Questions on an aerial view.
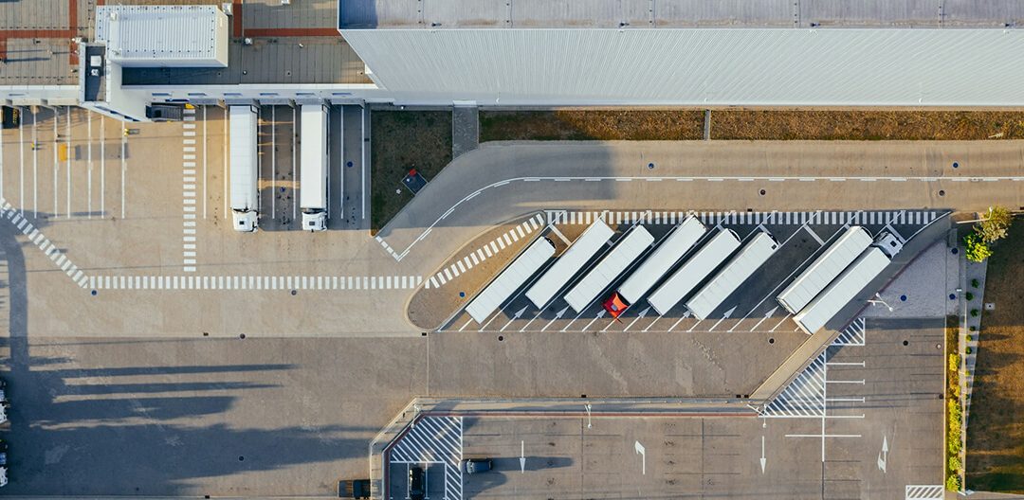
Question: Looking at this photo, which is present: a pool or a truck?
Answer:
truck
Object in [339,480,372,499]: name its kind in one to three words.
vehicle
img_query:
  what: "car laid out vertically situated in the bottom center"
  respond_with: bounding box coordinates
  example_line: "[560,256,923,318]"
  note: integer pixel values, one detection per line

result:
[410,465,427,499]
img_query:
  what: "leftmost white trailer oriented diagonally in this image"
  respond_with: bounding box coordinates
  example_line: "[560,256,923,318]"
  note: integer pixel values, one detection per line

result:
[466,236,556,324]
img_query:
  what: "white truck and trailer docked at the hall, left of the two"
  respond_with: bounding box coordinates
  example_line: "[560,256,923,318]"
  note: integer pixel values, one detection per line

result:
[230,105,259,233]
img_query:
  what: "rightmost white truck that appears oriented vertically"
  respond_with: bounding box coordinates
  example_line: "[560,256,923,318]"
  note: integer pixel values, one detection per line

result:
[301,105,328,234]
